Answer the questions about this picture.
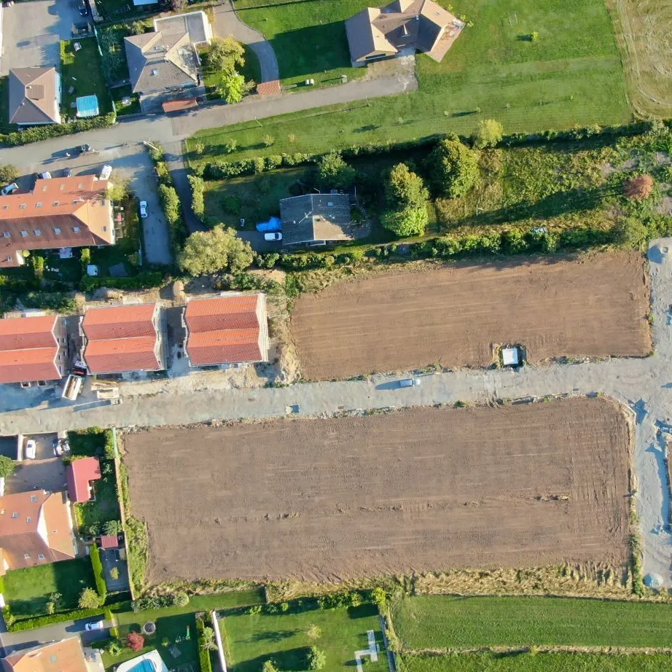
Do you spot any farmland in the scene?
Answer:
Yes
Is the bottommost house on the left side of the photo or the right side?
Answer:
left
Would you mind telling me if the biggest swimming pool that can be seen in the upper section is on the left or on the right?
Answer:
left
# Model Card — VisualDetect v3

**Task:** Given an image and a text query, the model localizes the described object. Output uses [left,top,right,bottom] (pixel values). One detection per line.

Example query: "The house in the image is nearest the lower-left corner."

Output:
[2,634,96,672]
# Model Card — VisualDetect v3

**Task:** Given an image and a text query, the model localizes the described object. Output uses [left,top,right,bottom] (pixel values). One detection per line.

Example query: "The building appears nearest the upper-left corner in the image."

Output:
[10,68,62,126]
